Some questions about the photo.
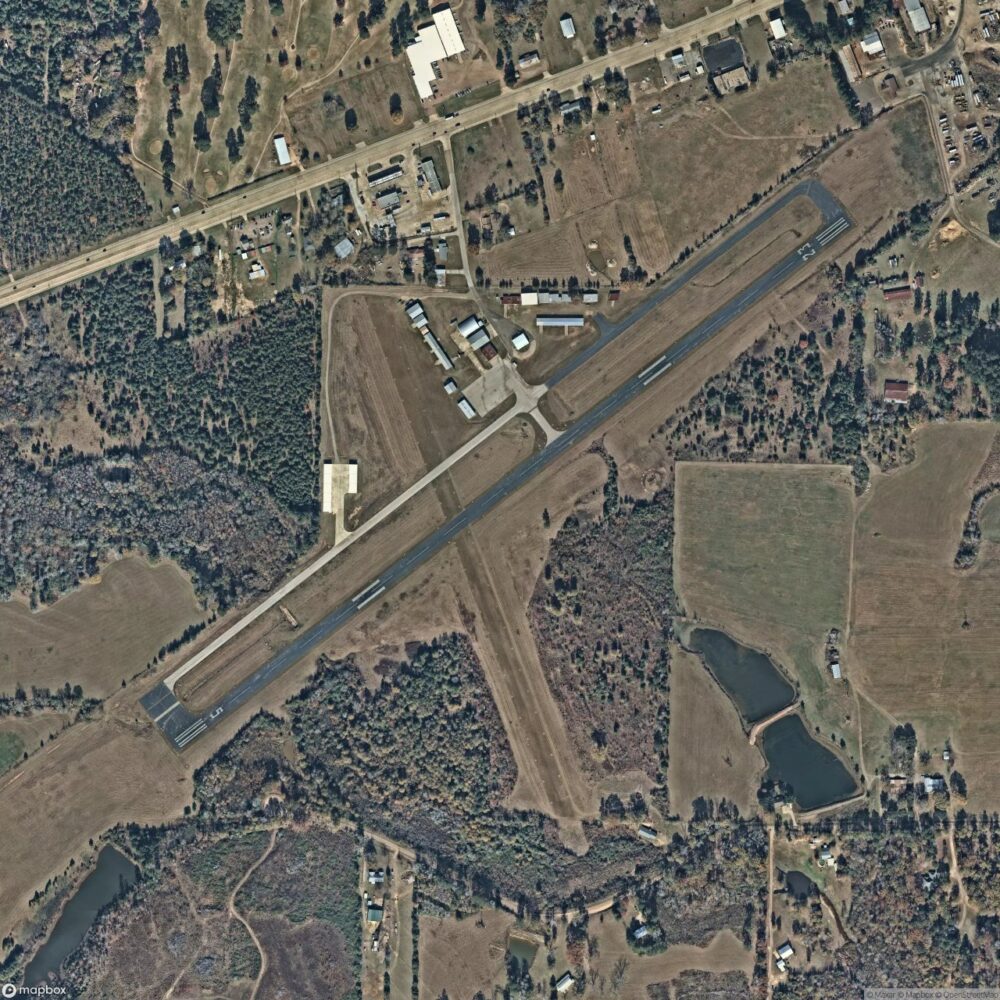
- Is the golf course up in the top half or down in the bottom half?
top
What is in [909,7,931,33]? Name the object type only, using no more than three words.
building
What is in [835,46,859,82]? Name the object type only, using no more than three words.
shed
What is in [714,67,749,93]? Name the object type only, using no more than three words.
building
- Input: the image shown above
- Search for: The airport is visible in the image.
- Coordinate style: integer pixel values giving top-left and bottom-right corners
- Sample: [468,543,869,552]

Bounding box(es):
[0,177,859,829]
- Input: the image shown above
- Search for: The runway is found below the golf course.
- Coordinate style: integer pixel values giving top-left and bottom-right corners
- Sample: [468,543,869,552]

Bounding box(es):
[174,220,855,751]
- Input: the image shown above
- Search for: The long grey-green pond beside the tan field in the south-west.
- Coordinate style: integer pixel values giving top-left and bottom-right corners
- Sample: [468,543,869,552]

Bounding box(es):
[24,845,139,987]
